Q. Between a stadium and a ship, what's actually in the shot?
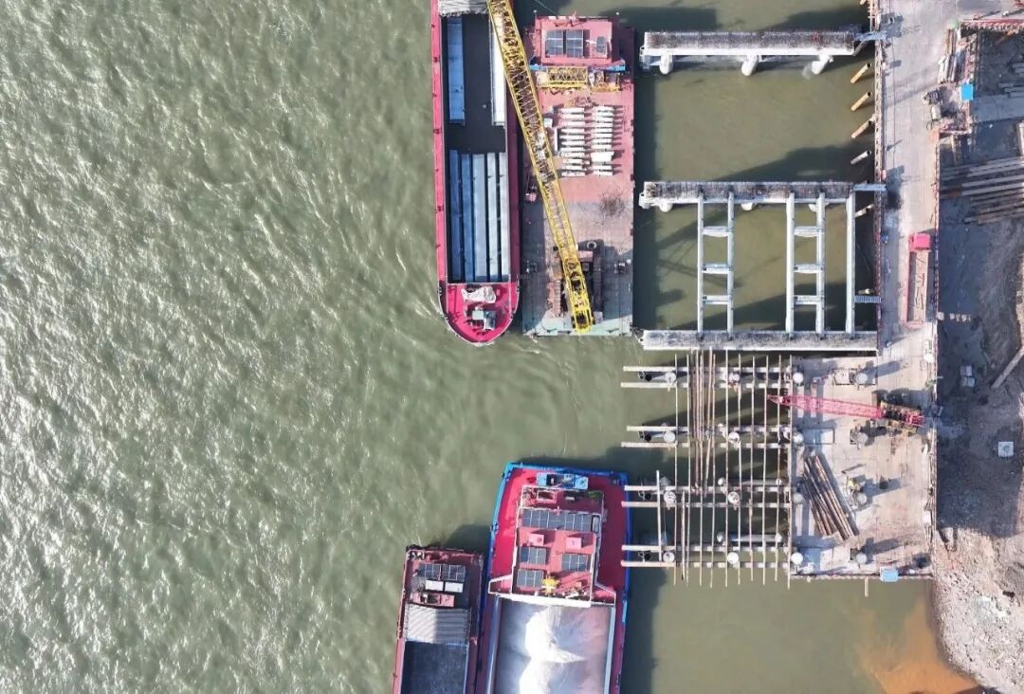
ship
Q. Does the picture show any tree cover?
No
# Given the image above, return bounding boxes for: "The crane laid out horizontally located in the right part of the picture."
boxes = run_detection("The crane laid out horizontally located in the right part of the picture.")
[746,388,928,430]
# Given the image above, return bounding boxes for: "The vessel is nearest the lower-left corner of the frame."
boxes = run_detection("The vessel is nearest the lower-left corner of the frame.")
[391,543,485,694]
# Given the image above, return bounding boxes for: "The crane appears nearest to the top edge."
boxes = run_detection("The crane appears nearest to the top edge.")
[487,0,604,331]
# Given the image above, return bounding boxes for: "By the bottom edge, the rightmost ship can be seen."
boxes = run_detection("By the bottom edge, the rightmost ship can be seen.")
[481,462,629,694]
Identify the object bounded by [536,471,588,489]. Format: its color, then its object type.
blue boat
